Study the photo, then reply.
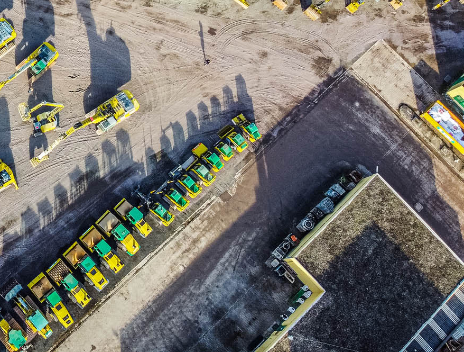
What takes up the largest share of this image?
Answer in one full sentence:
The largest share of the image is taken up by paved ground.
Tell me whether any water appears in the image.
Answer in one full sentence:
No, water can't be seen anywhere here.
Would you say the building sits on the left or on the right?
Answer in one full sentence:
The building appears in the right half of the scene.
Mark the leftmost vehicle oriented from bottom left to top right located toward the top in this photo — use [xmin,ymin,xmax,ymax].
[0,38,65,95]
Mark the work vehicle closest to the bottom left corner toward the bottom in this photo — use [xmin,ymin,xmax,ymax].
[0,311,33,352]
